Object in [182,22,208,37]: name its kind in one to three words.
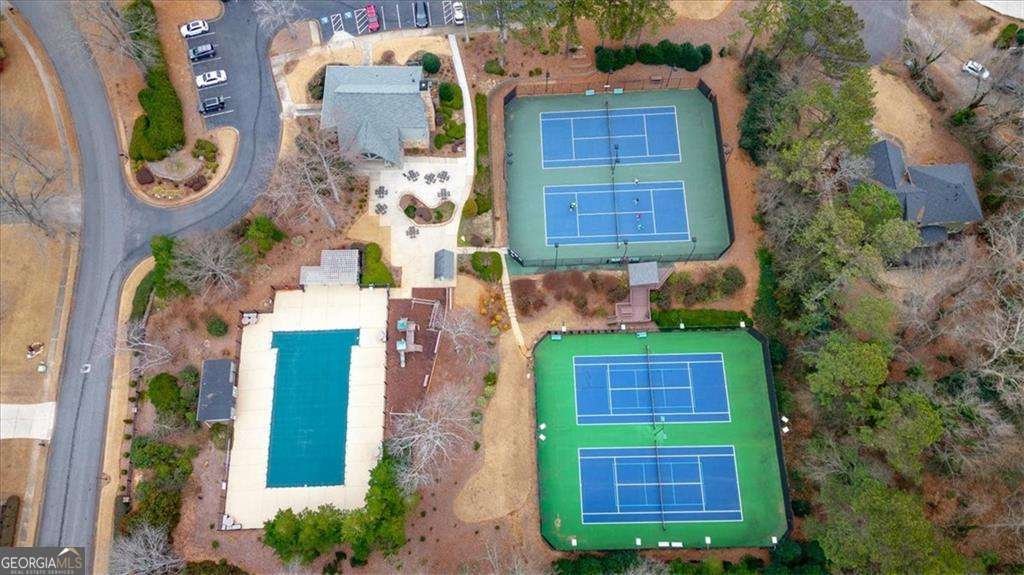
car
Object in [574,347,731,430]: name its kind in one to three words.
tennis court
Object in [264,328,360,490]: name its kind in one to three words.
swimming pool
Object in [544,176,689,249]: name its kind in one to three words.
tennis court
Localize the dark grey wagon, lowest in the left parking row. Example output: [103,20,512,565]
[199,96,227,114]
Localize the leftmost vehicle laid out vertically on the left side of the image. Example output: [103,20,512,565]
[366,5,379,33]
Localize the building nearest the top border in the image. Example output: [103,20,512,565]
[321,66,429,175]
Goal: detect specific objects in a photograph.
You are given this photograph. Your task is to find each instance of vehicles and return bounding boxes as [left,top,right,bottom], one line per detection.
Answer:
[452,2,465,26]
[366,5,379,33]
[198,72,226,87]
[960,59,991,80]
[415,1,428,27]
[182,22,208,37]
[190,44,217,61]
[199,96,227,114]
